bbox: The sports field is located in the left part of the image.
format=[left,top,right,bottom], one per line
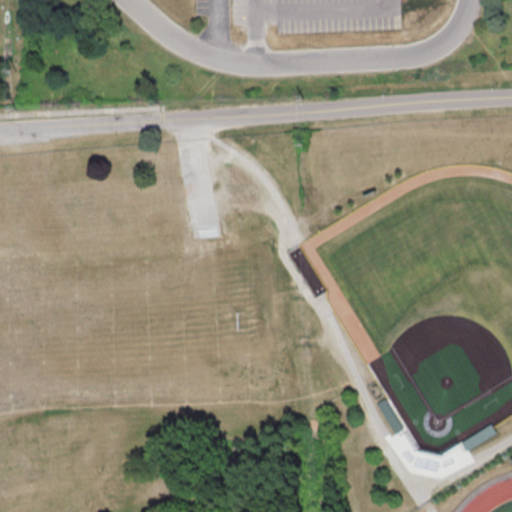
[0,257,262,402]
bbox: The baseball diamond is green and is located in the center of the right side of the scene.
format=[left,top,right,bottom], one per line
[302,165,512,453]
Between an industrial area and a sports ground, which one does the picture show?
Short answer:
sports ground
